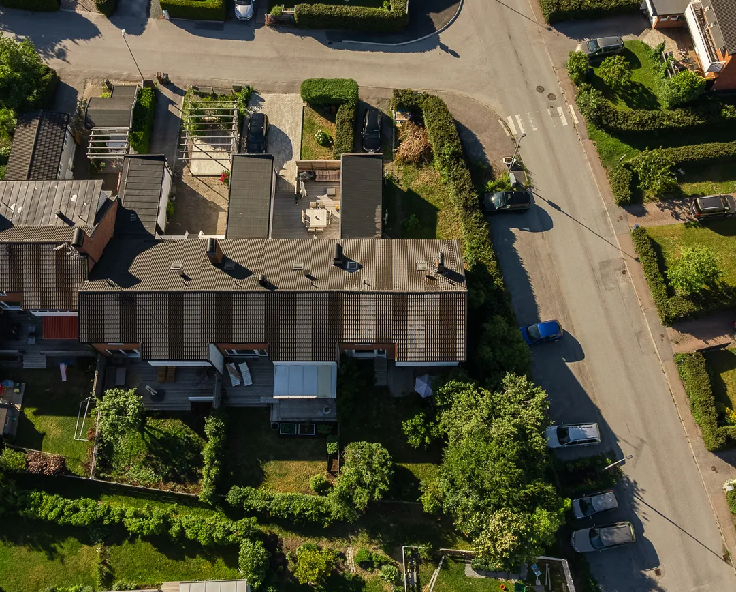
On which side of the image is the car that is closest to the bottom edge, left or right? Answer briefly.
right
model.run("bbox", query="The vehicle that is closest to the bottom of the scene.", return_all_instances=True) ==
[571,521,639,556]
